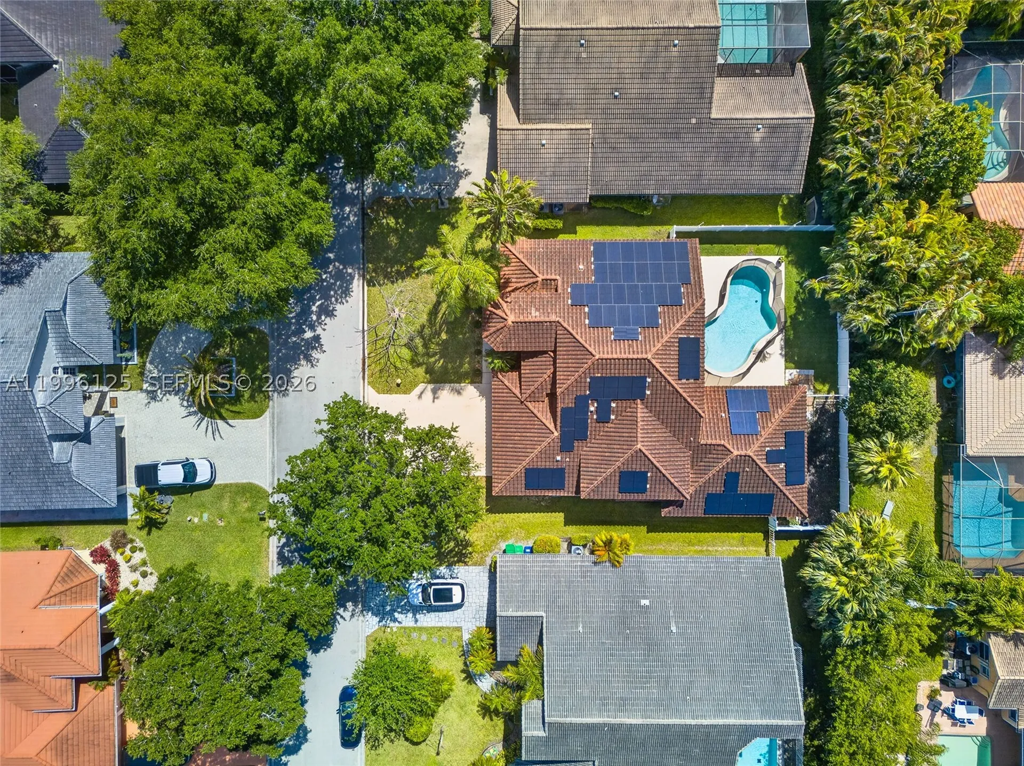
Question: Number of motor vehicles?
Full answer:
The number of motor vehicles here is 3.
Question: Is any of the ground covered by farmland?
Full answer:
No, no farmland is visible.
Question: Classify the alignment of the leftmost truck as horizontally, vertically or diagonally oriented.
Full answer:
I'd say the leftmost truck is aligned horizontally in the picture.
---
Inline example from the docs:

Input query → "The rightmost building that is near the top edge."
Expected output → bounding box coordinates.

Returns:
[490,0,817,205]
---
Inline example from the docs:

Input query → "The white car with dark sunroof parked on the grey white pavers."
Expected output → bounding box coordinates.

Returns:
[407,578,468,611]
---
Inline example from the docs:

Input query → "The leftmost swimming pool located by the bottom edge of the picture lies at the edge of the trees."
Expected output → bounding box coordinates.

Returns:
[738,739,794,766]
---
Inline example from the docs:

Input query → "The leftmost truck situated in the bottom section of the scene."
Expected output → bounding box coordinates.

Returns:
[134,456,219,489]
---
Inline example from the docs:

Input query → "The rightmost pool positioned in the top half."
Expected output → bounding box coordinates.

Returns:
[953,61,1016,183]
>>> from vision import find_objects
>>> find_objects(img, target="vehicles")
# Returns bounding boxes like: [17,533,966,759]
[134,456,219,489]
[407,578,468,611]
[335,684,366,751]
